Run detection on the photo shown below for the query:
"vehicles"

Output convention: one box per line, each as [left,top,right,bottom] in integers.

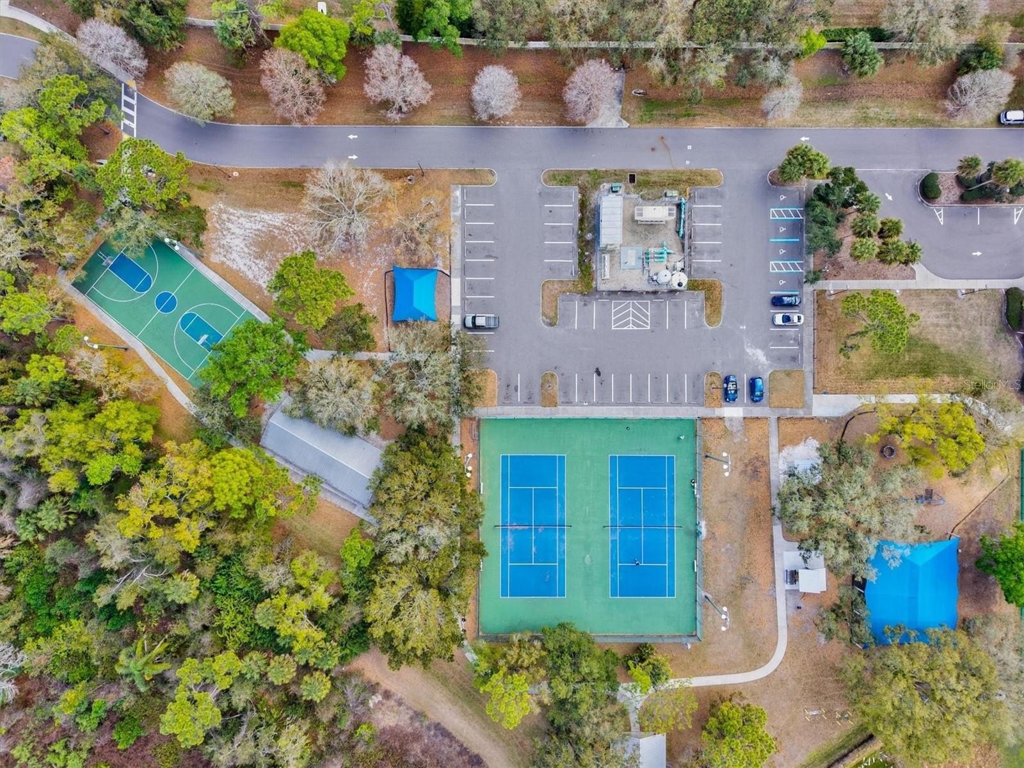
[724,375,738,403]
[464,315,499,330]
[1000,110,1024,125]
[771,294,800,308]
[750,377,764,402]
[318,1,328,18]
[772,312,803,326]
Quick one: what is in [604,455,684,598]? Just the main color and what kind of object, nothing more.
blue tennis court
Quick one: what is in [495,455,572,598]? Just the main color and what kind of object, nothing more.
blue tennis court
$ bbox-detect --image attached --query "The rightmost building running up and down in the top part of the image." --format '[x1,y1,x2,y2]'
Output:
[599,195,622,254]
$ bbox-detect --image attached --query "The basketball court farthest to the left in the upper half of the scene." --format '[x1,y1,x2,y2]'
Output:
[71,213,261,392]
